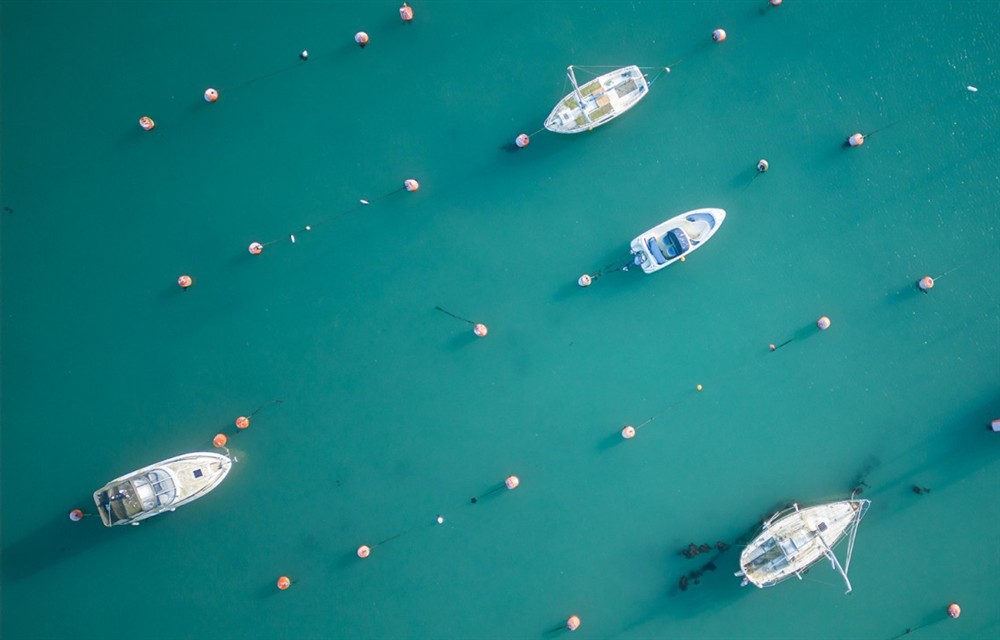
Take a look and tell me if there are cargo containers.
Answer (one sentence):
No, no cargo container can be seen from above.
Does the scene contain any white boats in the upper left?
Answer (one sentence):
No, I can find no white boat in the upper left.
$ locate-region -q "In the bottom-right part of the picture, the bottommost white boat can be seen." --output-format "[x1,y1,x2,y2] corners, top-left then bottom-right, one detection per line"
[732,498,871,593]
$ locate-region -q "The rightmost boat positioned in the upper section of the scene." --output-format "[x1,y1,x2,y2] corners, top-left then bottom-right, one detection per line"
[619,206,727,275]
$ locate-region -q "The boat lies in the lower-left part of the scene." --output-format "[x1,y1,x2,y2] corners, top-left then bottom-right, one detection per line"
[95,451,239,527]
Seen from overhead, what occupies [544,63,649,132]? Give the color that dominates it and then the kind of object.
white boat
